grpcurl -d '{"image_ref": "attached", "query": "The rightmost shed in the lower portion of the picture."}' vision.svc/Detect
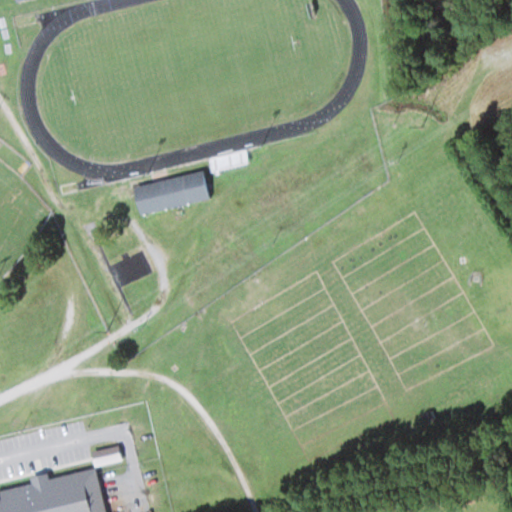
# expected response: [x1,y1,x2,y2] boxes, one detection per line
[94,446,124,468]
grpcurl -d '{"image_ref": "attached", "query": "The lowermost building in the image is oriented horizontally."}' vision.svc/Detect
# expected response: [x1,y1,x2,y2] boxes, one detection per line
[0,469,105,512]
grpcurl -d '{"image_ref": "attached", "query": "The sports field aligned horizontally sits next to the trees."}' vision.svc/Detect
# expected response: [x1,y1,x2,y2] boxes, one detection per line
[37,0,351,164]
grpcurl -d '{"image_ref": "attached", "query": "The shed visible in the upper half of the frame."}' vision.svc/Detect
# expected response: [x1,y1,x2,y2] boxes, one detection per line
[135,170,210,216]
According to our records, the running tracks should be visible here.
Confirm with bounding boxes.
[22,0,368,182]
